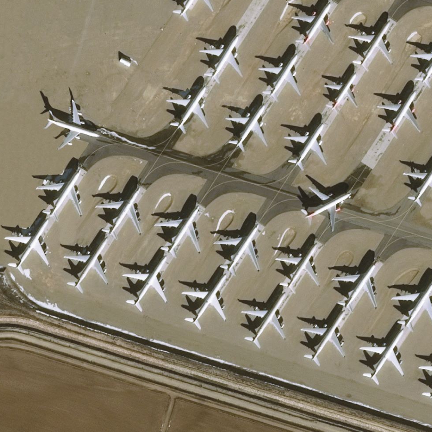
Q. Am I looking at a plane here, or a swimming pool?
plane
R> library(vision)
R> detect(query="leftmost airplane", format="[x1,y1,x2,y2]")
[7,218,50,273]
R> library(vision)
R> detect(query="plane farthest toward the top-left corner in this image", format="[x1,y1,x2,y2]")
[44,100,100,150]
